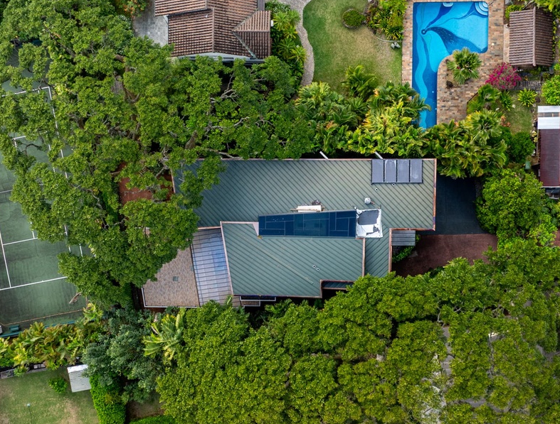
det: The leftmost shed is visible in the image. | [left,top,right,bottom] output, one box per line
[66,363,94,393]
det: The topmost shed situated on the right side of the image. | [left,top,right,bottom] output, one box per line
[507,6,555,67]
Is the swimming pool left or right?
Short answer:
right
